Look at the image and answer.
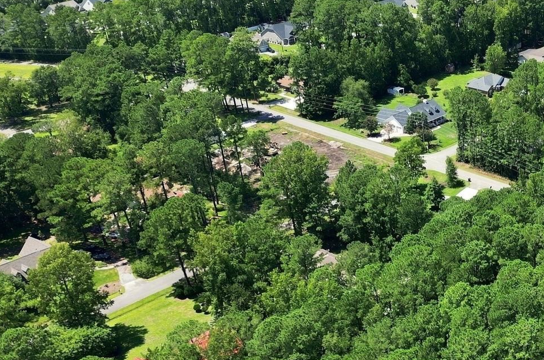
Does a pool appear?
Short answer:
No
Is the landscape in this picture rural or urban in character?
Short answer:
rural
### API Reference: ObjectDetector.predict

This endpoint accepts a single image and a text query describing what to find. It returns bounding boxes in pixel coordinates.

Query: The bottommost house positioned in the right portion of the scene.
[371,96,444,132]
